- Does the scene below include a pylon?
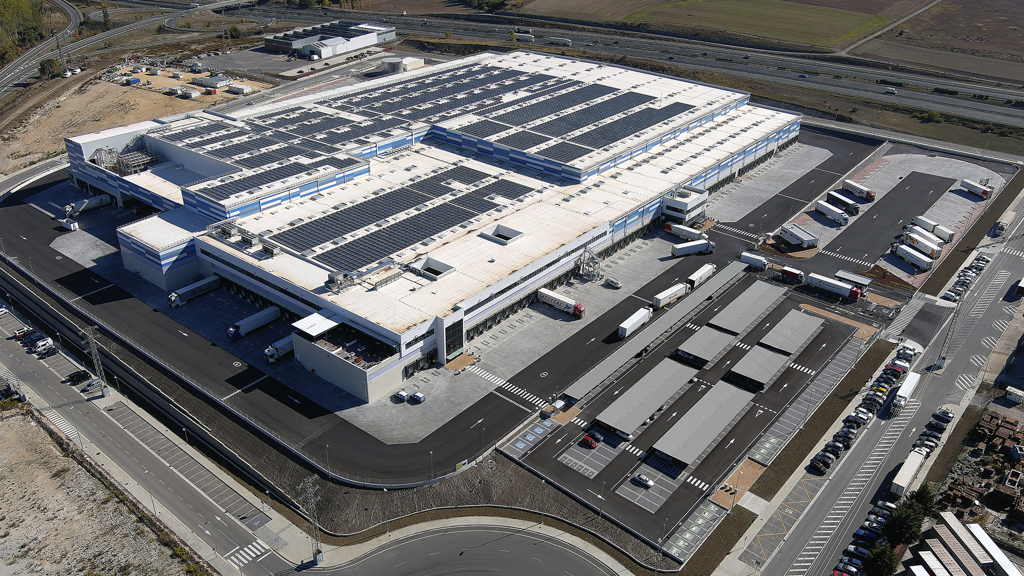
Yes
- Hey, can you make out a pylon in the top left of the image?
Yes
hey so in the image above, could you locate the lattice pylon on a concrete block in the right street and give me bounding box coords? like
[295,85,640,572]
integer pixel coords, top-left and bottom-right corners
[929,274,976,371]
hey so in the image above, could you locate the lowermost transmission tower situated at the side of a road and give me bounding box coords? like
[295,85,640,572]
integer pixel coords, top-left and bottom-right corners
[291,462,329,568]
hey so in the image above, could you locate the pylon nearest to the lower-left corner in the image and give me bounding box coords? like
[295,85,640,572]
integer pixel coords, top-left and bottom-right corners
[74,301,117,398]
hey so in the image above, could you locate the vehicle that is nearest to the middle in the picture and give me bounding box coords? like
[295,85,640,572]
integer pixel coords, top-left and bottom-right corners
[536,288,587,322]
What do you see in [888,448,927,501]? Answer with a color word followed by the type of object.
white truck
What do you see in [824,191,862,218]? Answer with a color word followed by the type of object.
black truck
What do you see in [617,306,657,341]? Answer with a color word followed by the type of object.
white truck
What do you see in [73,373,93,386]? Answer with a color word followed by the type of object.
black vehicle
